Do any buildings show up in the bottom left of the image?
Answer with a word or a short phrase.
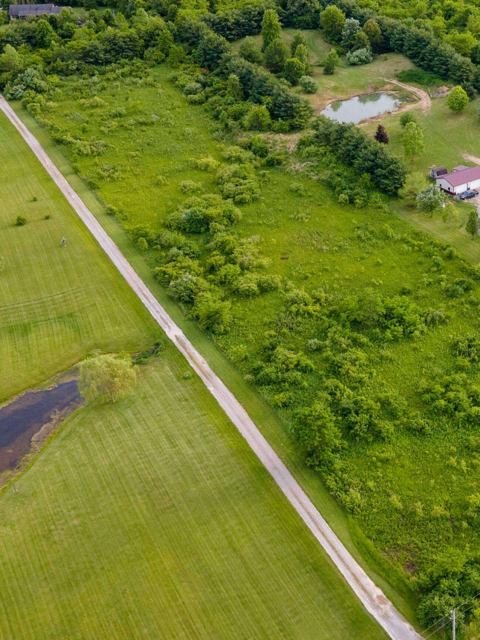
No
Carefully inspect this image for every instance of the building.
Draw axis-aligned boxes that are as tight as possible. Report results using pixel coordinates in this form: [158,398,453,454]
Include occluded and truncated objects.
[438,166,480,195]
[7,5,80,23]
